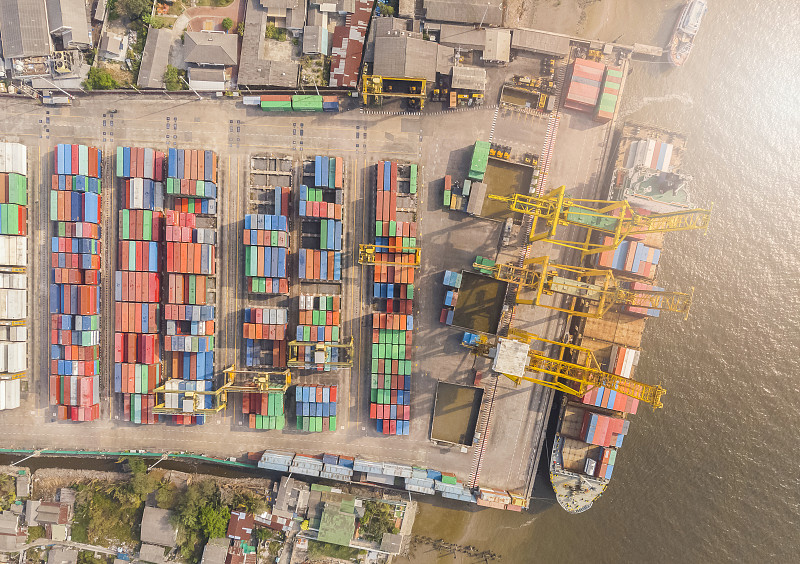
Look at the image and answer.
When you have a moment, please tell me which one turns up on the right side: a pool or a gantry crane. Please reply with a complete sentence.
What appears on the right side is a gantry crane.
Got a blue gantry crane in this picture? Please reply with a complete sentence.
No, I find no blue gantry crane anywhere in the image.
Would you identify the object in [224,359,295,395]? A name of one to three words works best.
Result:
container crane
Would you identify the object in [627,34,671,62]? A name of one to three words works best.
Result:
pier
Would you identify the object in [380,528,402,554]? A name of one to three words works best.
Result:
house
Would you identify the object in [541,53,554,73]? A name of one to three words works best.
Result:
vehicle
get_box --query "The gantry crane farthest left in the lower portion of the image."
[152,379,227,416]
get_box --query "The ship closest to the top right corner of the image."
[667,0,712,67]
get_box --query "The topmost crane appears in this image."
[362,75,427,116]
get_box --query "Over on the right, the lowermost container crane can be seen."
[473,327,673,412]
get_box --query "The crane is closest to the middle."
[357,241,423,273]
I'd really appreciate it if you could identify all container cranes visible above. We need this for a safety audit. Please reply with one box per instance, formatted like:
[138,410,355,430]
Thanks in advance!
[357,241,423,273]
[473,327,673,412]
[224,359,295,395]
[152,379,227,416]
[362,75,427,116]
[288,336,355,369]
[491,177,714,255]
[473,255,695,329]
